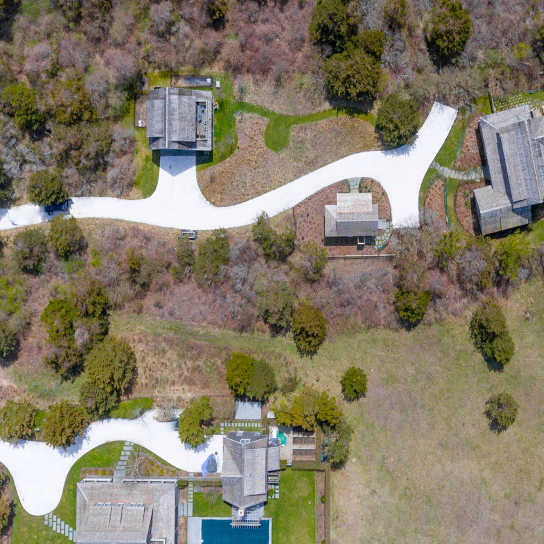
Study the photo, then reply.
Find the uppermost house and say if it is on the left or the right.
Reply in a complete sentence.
The uppermost house is on the left side of the image.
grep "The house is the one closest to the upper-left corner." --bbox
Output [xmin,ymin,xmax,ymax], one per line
[147,87,216,150]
